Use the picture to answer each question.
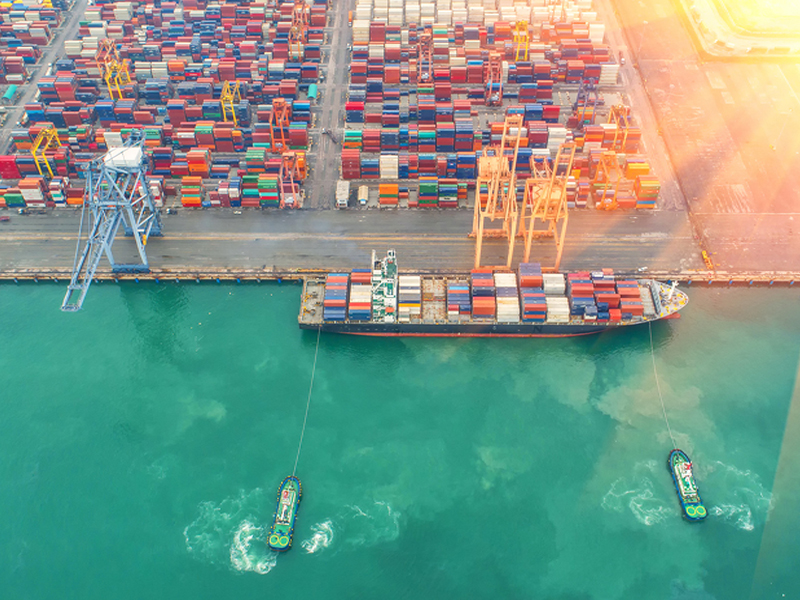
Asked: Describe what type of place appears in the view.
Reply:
port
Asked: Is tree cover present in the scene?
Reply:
No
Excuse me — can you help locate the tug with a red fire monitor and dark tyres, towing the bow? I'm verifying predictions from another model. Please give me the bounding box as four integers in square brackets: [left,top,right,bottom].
[665,448,709,523]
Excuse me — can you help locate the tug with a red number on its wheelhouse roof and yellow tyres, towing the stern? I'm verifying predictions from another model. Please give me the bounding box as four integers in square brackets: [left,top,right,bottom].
[266,474,302,553]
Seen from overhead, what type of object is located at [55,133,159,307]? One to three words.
container crane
